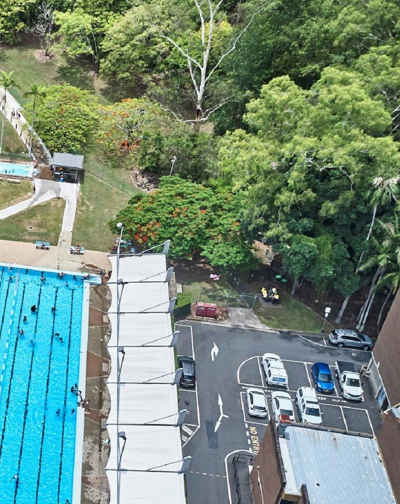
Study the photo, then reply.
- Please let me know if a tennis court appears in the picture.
No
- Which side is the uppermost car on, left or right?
right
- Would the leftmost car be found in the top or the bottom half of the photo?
bottom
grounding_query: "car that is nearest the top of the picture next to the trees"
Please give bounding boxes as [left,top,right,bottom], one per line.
[330,327,374,354]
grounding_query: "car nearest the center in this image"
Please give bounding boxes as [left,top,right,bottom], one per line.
[179,354,200,387]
